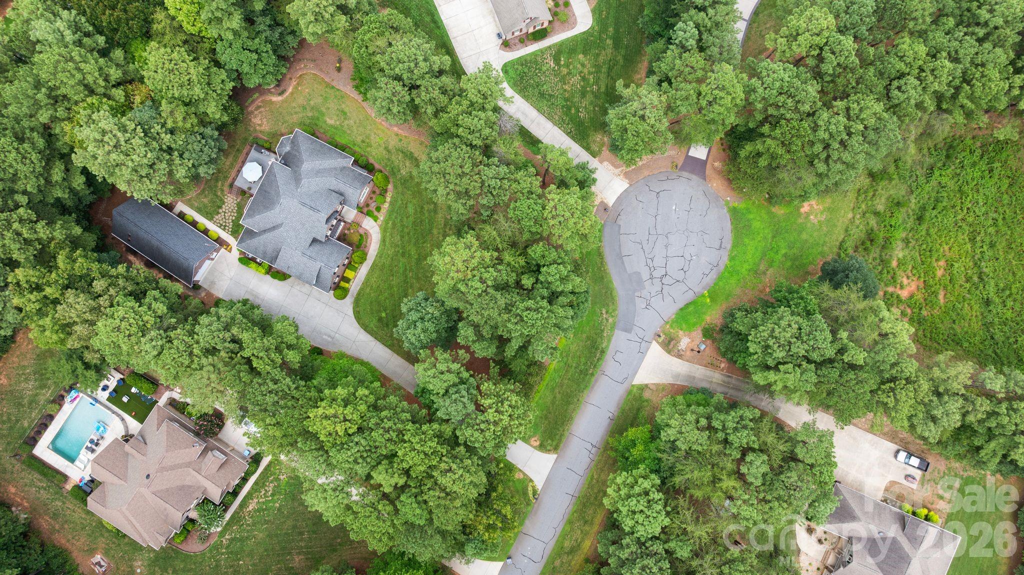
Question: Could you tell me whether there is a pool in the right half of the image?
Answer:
No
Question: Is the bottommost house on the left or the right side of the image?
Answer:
right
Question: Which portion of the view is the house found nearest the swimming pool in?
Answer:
bottom left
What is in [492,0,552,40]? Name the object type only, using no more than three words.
house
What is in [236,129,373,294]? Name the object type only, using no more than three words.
house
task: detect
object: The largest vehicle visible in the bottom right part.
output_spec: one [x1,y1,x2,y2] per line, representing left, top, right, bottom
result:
[891,447,931,474]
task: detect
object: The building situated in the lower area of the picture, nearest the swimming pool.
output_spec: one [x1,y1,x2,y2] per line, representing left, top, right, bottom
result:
[87,404,252,551]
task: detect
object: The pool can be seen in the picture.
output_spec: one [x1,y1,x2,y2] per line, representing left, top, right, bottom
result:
[45,401,118,474]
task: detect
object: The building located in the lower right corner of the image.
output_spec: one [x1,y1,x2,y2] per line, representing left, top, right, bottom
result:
[816,482,962,575]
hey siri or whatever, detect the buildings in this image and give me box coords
[816,482,962,575]
[87,404,252,551]
[111,196,222,286]
[236,129,373,294]
[492,0,552,40]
